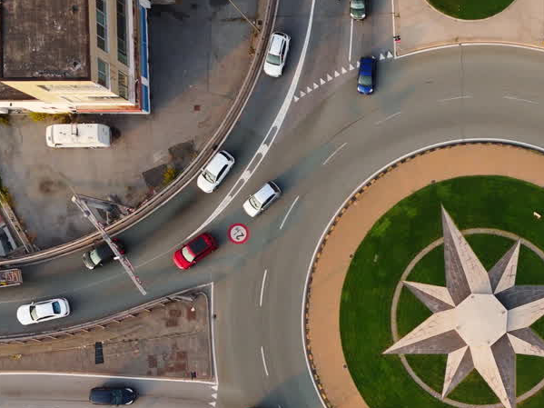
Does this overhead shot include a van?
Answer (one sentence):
Yes, a van appears in the view.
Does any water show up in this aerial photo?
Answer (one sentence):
No, there is no water in the image.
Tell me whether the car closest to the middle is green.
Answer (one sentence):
No, the car closest to the middle is actually white.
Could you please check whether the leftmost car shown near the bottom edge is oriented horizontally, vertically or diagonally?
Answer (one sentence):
The leftmost car shown near the bottom edge runs horizontally in the image.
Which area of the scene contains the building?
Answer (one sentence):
You can find the building in the top left area of the picture.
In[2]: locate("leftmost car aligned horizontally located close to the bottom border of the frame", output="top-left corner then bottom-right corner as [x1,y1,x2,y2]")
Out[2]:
[89,384,139,407]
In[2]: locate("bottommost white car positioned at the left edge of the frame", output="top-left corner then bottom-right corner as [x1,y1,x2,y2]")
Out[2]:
[18,299,73,324]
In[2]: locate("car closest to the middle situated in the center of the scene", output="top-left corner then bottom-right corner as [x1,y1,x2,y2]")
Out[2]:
[245,181,283,217]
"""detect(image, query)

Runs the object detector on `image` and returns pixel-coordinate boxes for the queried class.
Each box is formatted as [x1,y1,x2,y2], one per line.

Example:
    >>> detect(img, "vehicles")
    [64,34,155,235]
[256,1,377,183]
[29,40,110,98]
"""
[173,233,218,267]
[355,56,377,95]
[0,267,26,288]
[89,384,139,407]
[345,0,369,22]
[262,30,291,80]
[48,120,115,149]
[18,299,73,324]
[84,239,128,268]
[245,181,283,217]
[199,150,234,193]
